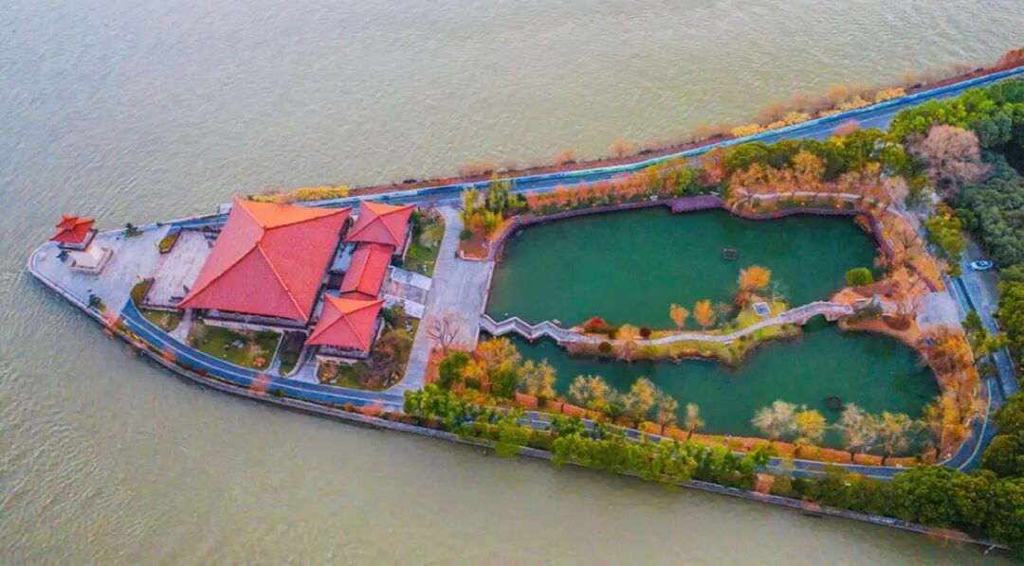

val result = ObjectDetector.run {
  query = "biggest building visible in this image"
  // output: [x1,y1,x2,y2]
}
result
[172,194,353,333]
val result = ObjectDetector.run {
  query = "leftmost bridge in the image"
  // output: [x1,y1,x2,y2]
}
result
[478,314,577,344]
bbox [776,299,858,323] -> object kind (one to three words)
bridge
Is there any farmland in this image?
No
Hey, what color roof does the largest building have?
red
